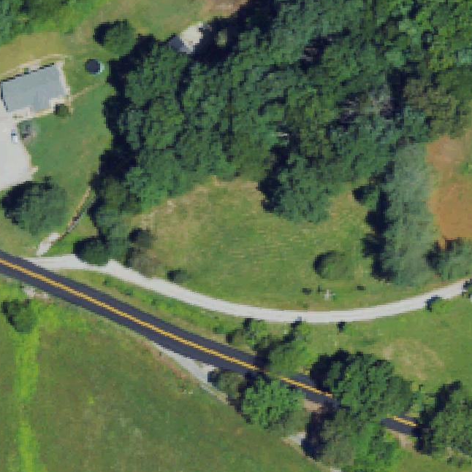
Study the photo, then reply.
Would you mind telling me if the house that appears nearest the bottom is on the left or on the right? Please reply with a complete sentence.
It is on the left.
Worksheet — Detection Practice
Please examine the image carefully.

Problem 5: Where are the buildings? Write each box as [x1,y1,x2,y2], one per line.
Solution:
[0,64,67,112]
[169,35,189,57]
